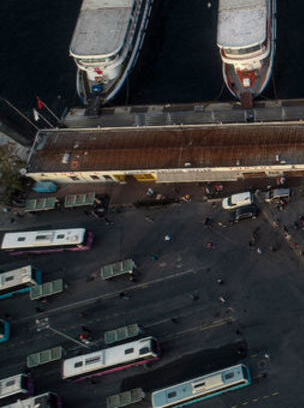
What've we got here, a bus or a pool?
bus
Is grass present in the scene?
No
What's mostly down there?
paved ground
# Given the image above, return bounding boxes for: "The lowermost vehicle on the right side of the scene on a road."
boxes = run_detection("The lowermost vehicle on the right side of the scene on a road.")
[153,362,255,408]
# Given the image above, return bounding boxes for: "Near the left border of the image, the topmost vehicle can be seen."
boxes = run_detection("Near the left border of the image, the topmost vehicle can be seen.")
[1,229,97,256]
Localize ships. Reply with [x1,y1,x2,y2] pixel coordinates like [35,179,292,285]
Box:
[217,0,283,103]
[69,0,151,109]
